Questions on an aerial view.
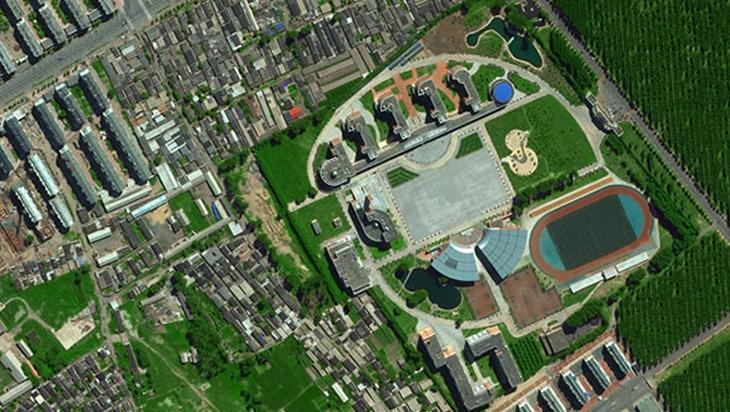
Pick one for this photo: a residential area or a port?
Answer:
residential area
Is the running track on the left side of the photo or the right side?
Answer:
right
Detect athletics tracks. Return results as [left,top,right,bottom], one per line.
[525,182,668,288]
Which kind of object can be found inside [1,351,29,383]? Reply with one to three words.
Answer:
shed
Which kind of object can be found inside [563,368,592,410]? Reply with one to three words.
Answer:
building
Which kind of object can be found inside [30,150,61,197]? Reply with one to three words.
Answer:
building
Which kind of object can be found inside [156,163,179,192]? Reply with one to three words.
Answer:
shed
